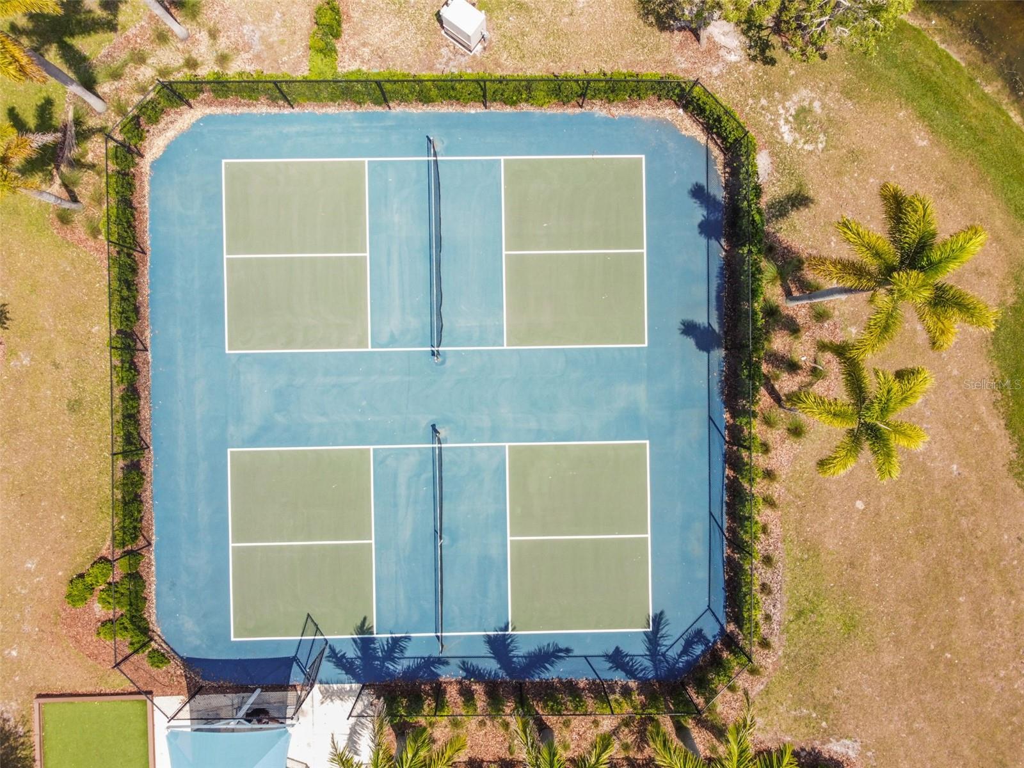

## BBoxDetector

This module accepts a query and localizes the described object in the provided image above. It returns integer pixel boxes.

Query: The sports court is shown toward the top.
[222,155,648,353]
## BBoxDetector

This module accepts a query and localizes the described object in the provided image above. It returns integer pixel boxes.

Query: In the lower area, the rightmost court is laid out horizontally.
[227,441,652,641]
